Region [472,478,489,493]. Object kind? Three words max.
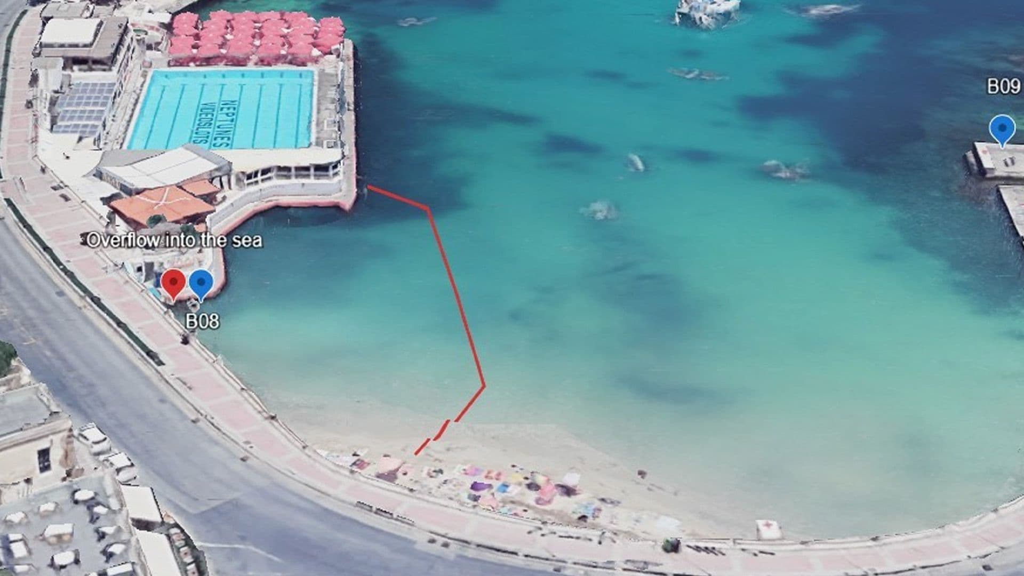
umbrella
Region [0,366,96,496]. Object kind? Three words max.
house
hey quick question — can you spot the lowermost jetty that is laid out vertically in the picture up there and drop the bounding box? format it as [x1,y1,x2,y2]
[992,187,1024,254]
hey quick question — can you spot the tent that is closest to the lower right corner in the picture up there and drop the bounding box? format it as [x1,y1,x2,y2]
[752,517,782,537]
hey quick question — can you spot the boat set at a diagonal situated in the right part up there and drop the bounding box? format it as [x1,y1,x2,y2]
[628,154,648,170]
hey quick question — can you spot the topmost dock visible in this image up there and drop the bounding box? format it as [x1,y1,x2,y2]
[961,142,1024,188]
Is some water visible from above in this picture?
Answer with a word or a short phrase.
Yes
